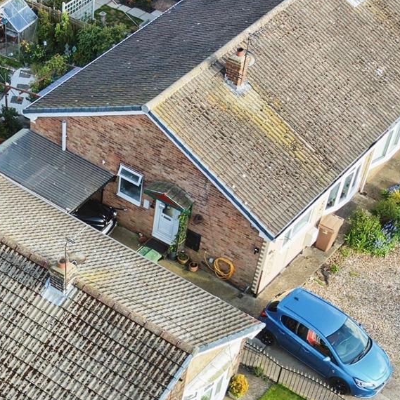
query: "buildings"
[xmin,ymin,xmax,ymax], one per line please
[0,173,268,400]
[21,0,400,297]
[0,0,42,68]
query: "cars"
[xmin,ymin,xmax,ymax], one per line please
[258,294,390,398]
[70,201,104,231]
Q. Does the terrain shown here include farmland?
No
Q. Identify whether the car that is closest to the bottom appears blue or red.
blue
